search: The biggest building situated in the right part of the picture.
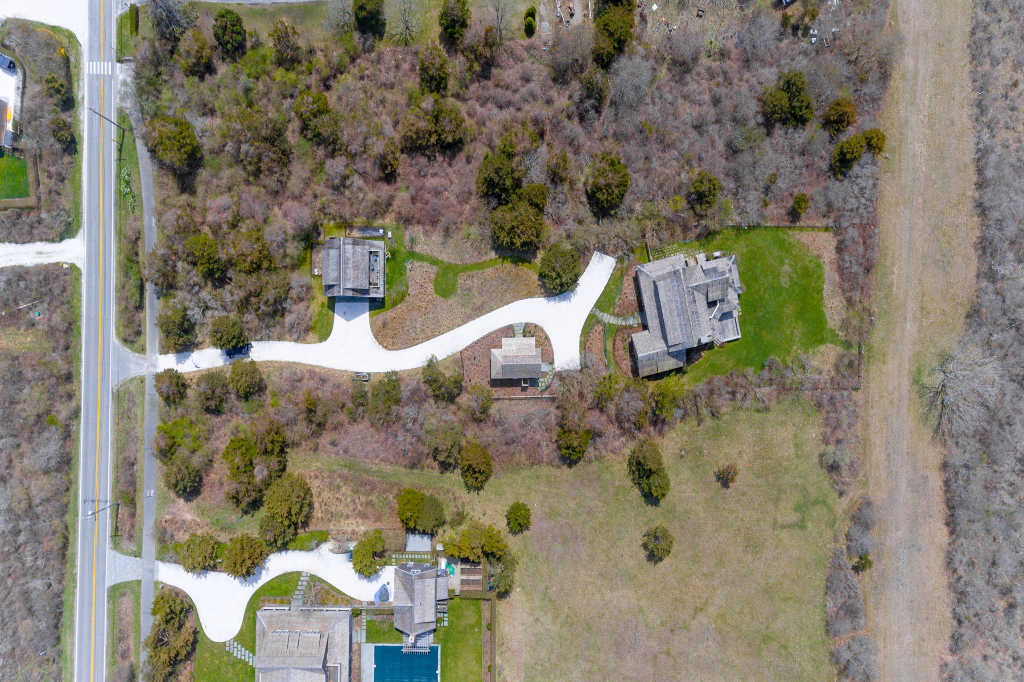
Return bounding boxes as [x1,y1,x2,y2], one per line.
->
[631,251,742,377]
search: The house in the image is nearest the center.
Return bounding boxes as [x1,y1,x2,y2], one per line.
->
[491,338,541,386]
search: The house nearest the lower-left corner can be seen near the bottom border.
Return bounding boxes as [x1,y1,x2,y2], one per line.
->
[256,603,356,682]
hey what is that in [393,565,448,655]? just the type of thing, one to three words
building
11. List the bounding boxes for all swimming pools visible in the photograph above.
[361,644,441,682]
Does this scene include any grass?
Yes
